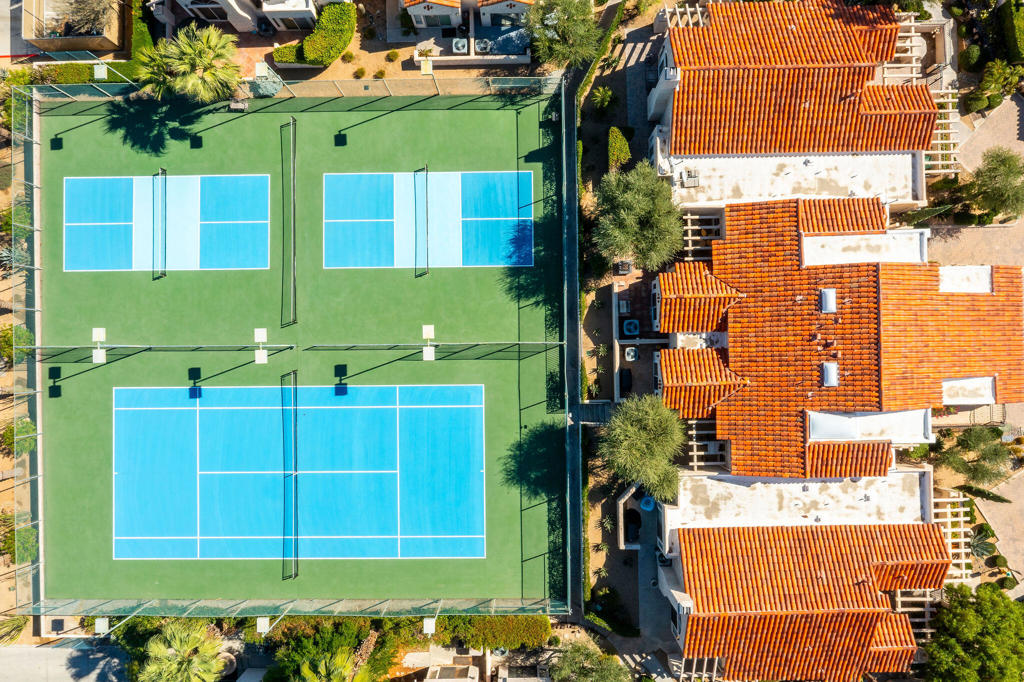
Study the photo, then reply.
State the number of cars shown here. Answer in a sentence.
The count of cars is 0.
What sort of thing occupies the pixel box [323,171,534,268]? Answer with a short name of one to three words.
sports court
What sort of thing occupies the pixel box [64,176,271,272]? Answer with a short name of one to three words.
sports court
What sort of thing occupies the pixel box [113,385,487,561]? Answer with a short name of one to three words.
tennis court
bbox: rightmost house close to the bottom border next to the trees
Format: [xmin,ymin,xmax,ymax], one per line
[649,458,952,682]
